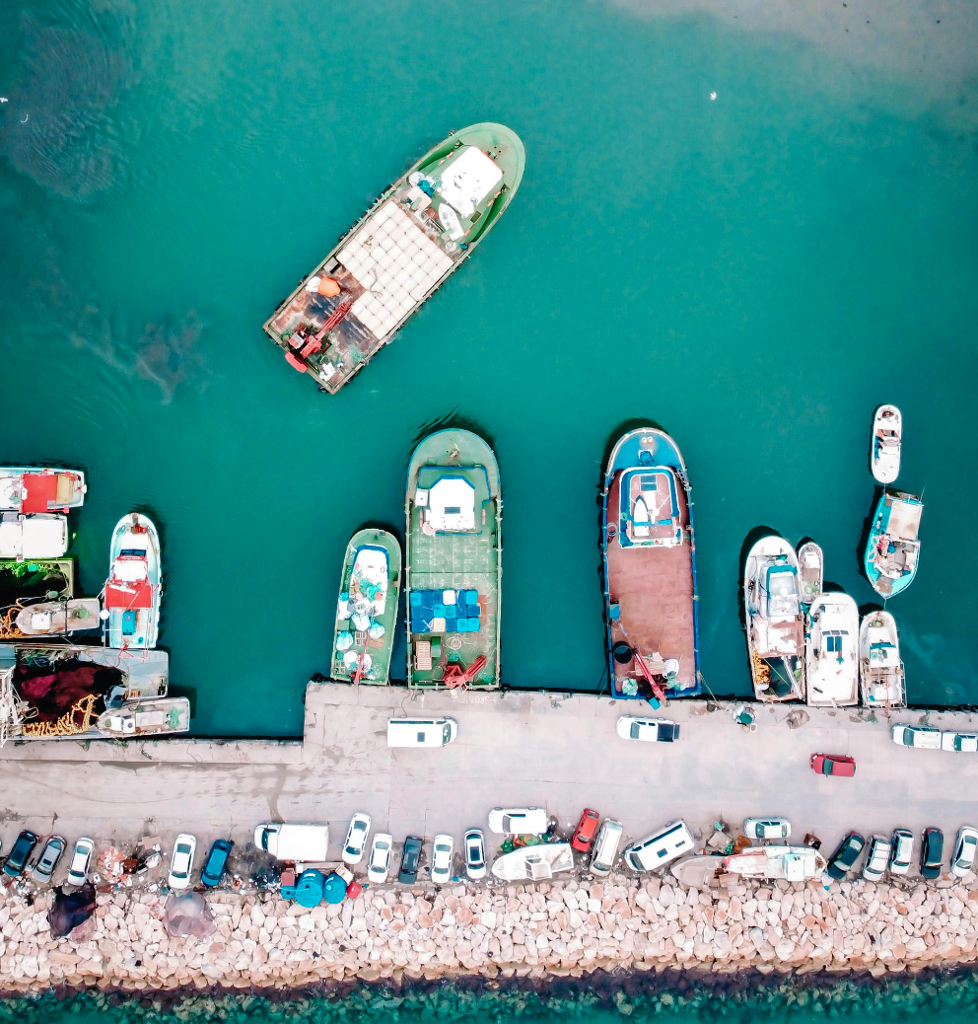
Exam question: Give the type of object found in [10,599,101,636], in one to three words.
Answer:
boat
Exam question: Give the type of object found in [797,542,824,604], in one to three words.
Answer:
boat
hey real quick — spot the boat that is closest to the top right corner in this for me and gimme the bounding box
[870,404,902,483]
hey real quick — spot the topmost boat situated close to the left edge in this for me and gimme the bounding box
[0,467,87,513]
